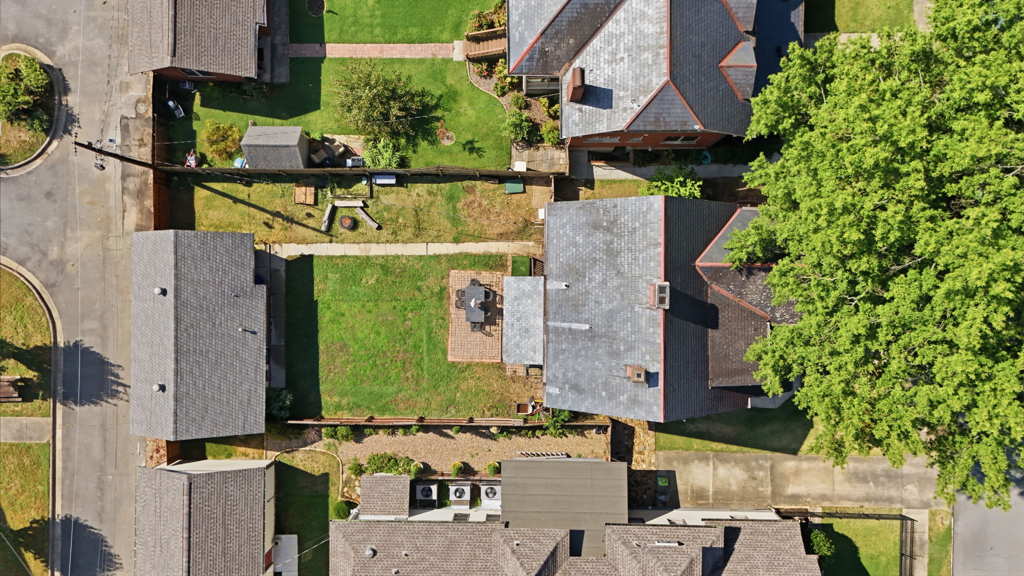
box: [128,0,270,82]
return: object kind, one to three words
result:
building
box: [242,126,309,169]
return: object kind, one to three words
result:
shed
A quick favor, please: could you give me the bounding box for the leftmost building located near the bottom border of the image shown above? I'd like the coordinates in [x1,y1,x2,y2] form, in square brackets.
[133,459,284,576]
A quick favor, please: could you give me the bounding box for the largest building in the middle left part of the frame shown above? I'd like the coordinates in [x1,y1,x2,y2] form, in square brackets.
[130,230,271,441]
